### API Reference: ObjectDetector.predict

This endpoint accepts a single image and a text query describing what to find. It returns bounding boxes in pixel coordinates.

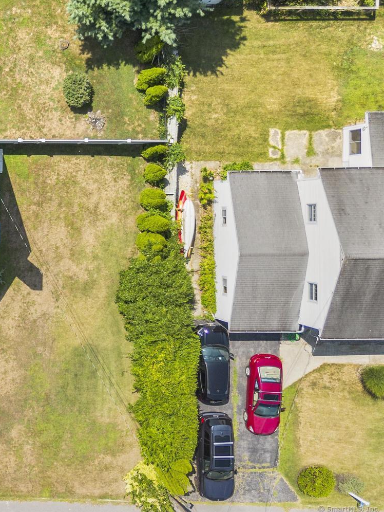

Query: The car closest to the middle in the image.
[191,325,234,407]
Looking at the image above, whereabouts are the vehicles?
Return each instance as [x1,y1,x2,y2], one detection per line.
[239,352,283,434]
[193,411,237,500]
[191,325,234,407]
